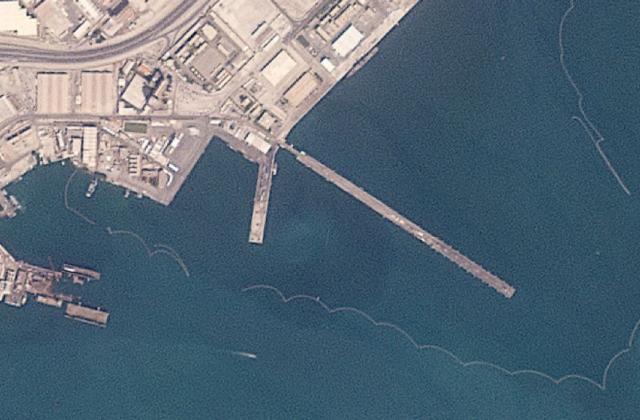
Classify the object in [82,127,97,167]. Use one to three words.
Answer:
building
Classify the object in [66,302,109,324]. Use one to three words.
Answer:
pier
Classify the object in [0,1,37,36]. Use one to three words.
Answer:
building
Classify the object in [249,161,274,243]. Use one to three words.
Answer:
pier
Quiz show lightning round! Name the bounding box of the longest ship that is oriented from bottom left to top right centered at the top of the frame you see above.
[347,48,378,78]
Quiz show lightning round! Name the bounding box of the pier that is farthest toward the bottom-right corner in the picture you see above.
[296,154,516,299]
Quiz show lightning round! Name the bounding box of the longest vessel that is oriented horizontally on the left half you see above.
[64,264,101,279]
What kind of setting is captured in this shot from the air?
port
